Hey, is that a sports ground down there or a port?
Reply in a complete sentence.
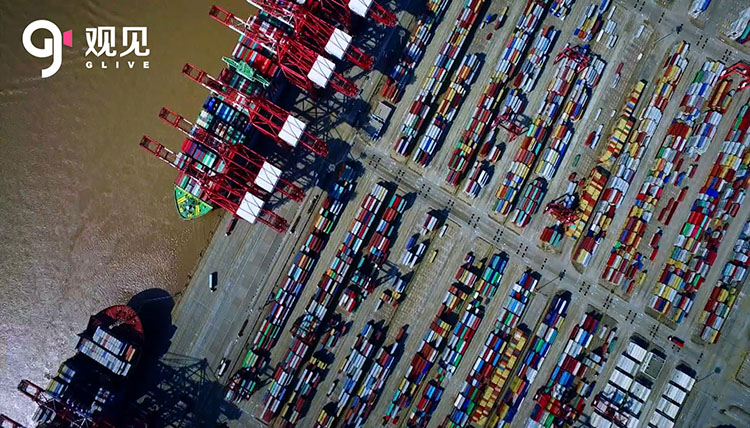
The area seen from above is a port.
